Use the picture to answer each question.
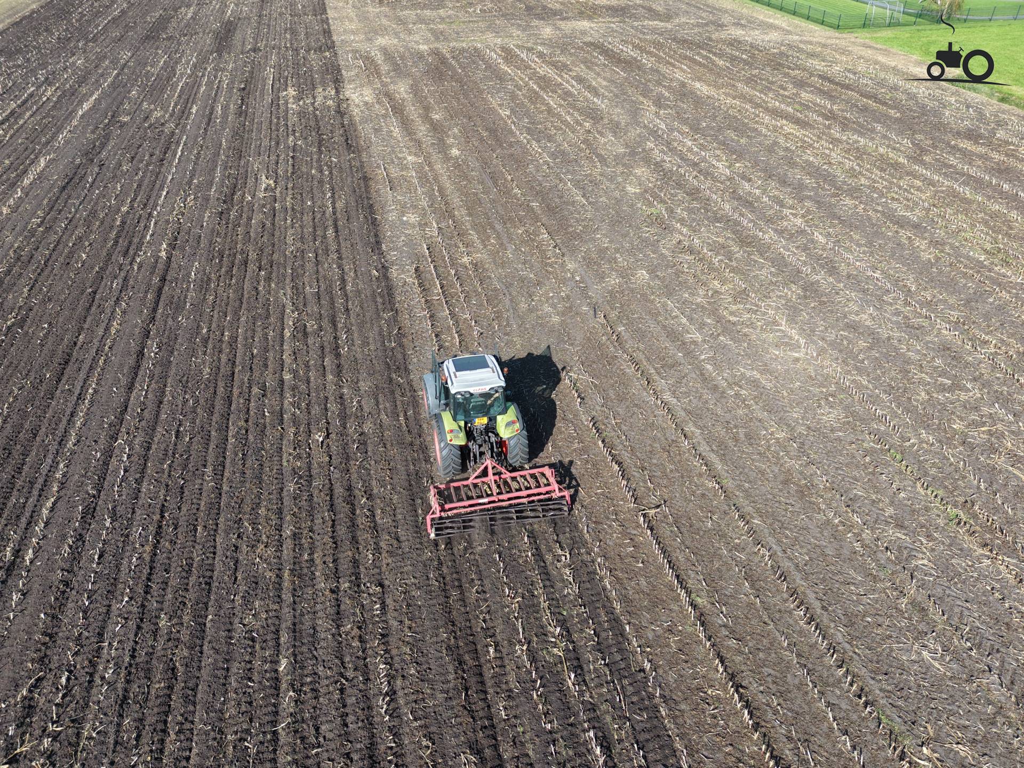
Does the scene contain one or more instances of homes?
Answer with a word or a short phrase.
No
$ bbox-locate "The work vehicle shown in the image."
[423,343,530,477]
